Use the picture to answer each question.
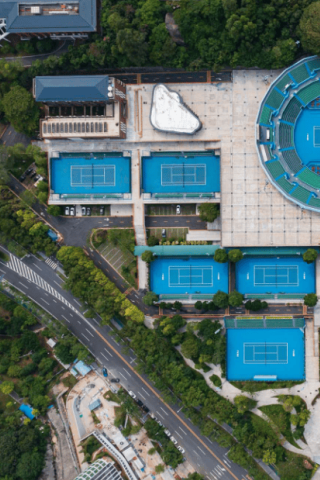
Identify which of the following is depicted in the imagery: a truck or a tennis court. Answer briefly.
tennis court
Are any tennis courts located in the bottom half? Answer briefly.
Yes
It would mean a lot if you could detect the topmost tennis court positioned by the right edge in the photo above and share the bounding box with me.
[237,257,314,293]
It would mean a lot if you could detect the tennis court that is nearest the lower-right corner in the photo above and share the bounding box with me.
[227,329,304,381]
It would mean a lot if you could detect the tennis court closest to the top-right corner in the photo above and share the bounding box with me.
[143,156,218,192]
